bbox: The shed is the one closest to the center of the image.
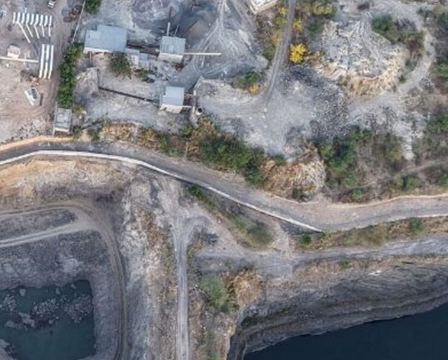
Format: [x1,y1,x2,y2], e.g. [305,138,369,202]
[157,85,184,114]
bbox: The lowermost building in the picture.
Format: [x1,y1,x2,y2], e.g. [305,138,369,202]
[56,108,71,129]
